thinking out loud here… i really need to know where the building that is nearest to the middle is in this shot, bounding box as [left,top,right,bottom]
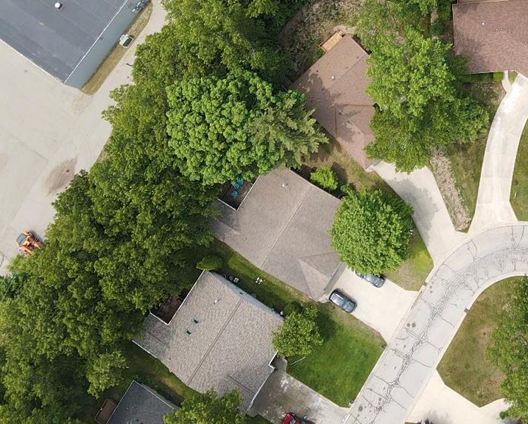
[204,158,353,301]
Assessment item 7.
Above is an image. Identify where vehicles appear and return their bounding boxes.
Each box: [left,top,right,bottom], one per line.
[281,414,304,424]
[326,289,357,313]
[6,229,41,256]
[354,270,385,287]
